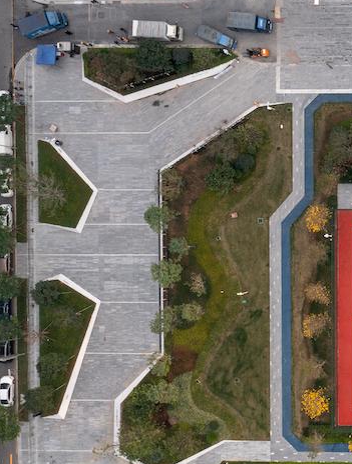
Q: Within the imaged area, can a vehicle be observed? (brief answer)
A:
Yes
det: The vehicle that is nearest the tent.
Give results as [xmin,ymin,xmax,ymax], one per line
[51,37,76,53]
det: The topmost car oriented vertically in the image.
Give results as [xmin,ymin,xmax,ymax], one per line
[0,128,13,157]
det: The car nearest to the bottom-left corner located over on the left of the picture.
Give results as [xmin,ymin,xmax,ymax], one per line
[0,375,16,406]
